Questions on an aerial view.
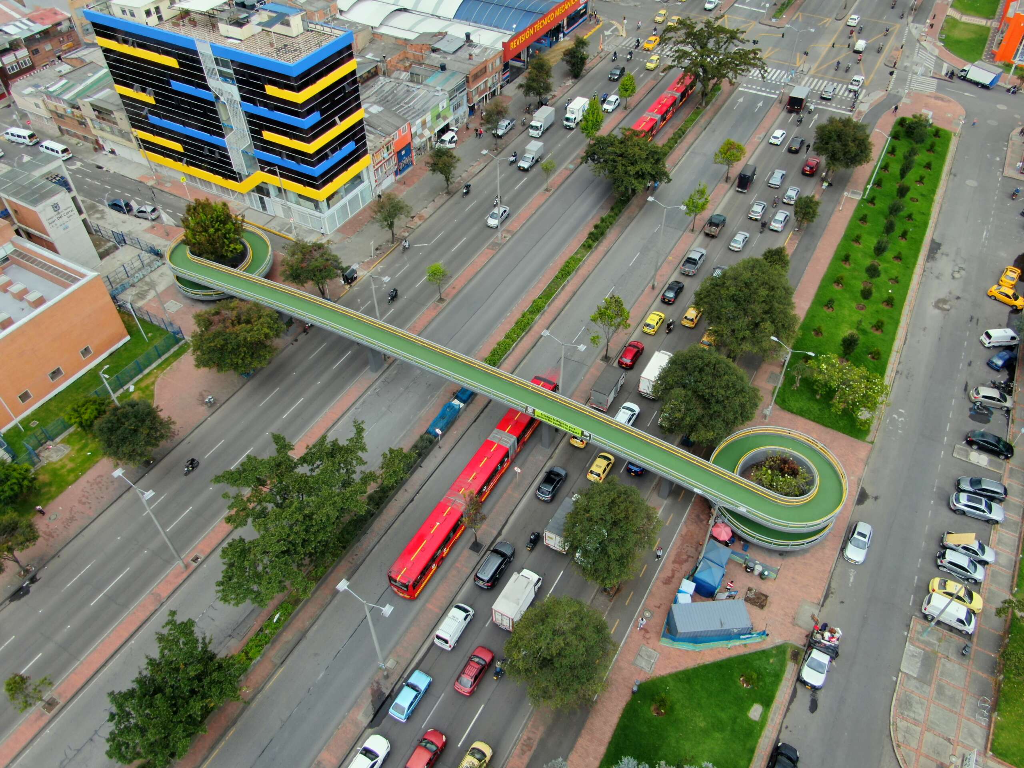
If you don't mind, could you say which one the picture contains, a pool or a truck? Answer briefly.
truck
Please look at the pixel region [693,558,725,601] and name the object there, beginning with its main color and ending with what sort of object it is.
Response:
blue tent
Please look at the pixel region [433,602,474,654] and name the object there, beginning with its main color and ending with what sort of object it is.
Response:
white van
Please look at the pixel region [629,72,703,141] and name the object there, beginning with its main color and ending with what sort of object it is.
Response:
red bus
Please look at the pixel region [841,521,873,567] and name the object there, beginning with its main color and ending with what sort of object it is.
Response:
white car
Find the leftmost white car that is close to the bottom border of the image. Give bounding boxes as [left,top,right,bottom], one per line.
[349,734,390,768]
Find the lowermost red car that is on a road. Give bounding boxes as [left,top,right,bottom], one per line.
[401,727,445,768]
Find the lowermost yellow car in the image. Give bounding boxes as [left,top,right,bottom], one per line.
[456,737,492,768]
